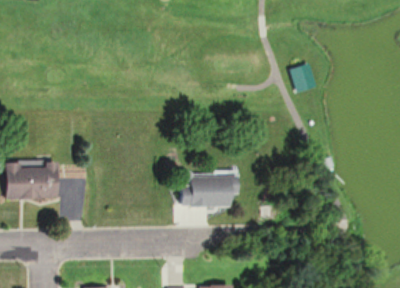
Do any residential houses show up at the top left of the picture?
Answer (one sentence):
No, looking at the top left of the picture, there is no residential house.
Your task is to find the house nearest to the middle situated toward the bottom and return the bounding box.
[180,166,240,208]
